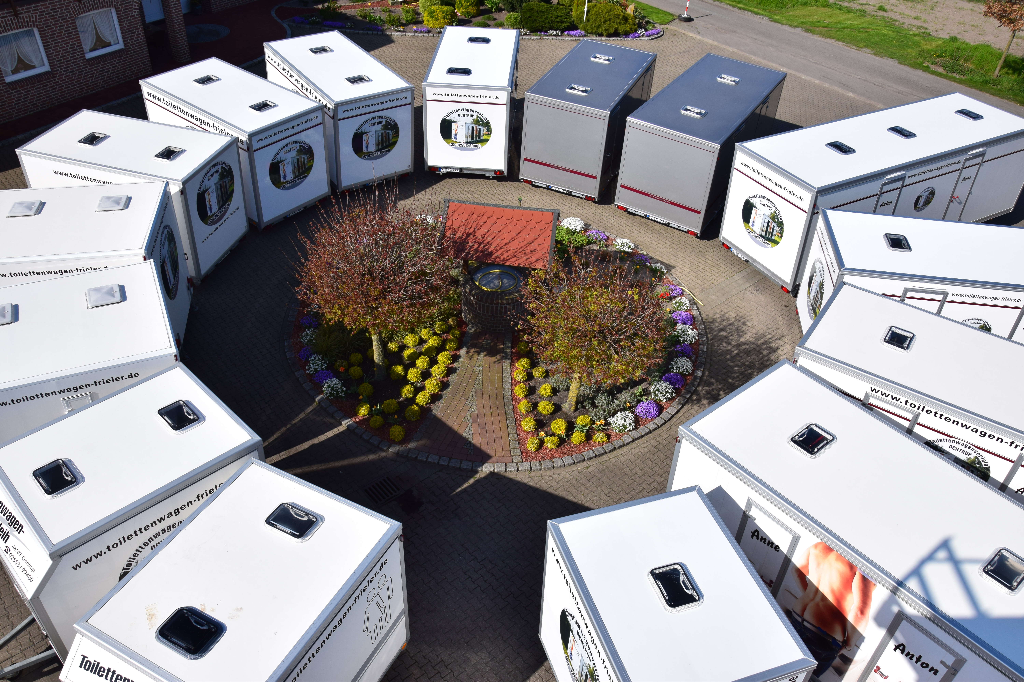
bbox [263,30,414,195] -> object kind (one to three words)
trailer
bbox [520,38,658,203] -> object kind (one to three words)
trailer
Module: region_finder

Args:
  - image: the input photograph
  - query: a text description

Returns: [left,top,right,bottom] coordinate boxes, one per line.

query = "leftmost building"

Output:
[0,0,249,122]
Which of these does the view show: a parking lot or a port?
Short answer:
parking lot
